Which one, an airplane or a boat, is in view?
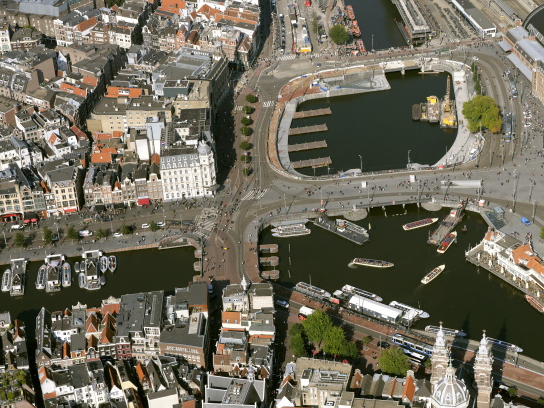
boat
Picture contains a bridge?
Yes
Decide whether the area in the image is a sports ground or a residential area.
residential area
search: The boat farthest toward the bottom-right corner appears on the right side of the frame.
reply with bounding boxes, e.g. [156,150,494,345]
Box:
[483,336,522,352]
